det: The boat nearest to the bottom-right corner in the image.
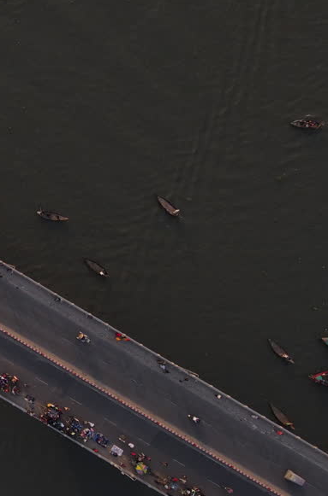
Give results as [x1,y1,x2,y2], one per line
[270,403,298,431]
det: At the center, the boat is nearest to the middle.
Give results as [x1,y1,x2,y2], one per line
[157,196,182,217]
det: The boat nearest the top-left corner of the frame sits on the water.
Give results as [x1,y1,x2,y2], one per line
[36,202,71,221]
